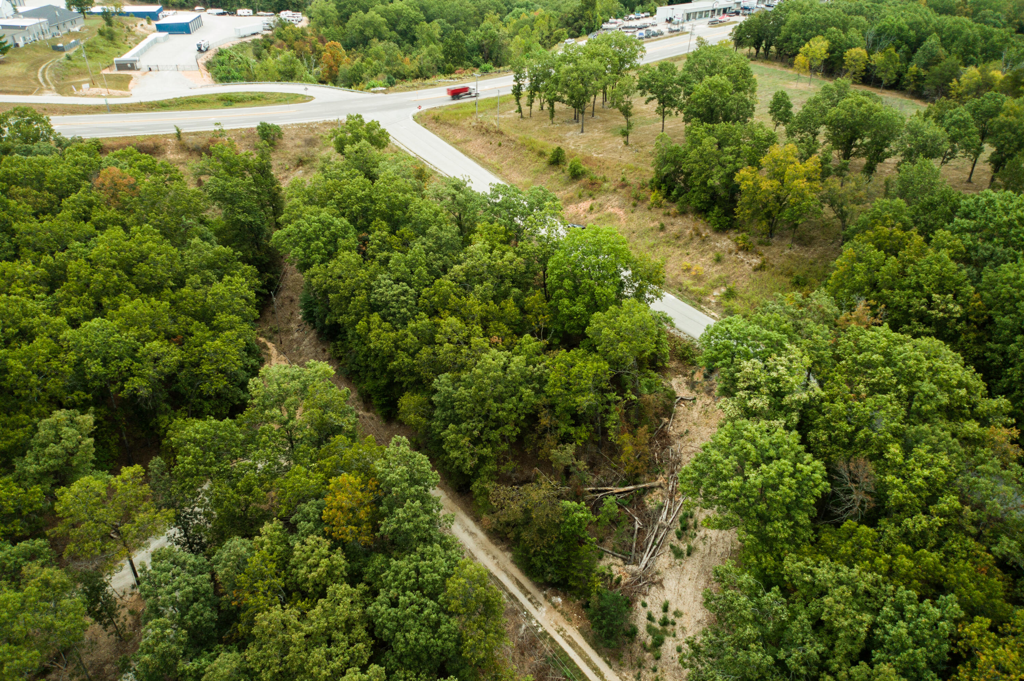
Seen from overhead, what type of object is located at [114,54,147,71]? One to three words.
shed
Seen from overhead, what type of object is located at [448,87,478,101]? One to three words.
vehicle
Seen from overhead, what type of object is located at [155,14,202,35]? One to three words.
building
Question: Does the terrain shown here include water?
No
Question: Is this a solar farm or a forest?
forest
